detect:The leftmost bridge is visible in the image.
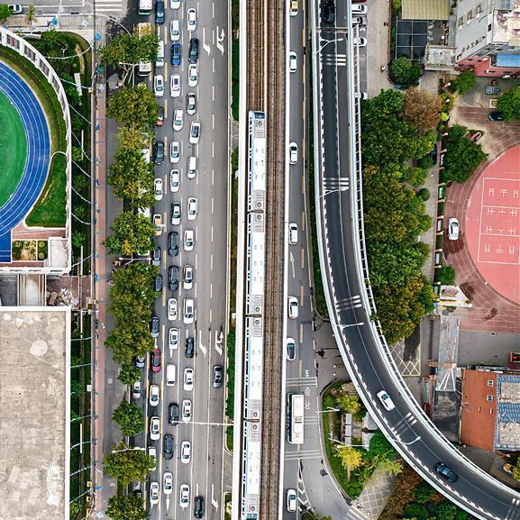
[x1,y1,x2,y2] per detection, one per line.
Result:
[225,0,290,520]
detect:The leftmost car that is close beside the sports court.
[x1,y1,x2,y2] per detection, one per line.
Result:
[446,218,459,240]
